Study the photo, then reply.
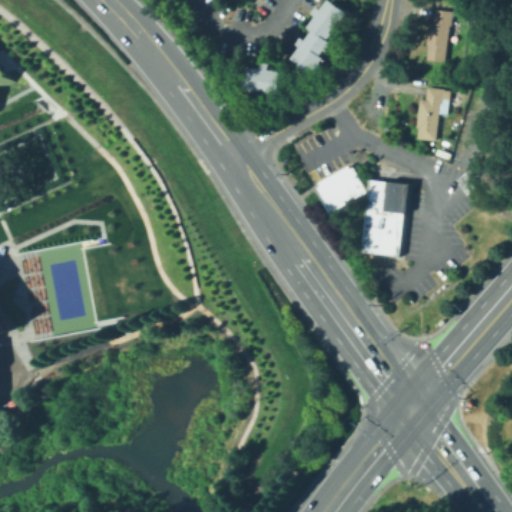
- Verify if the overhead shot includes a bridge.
No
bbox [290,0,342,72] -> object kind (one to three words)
building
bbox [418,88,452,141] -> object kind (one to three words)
house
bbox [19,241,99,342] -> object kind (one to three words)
sports court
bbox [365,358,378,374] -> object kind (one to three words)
vehicle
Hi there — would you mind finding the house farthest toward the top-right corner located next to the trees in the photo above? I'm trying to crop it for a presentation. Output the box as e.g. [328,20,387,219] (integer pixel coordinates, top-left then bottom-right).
[424,8,455,63]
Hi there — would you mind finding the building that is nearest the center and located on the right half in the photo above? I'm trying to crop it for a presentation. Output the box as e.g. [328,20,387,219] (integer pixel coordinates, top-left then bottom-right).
[317,166,367,212]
